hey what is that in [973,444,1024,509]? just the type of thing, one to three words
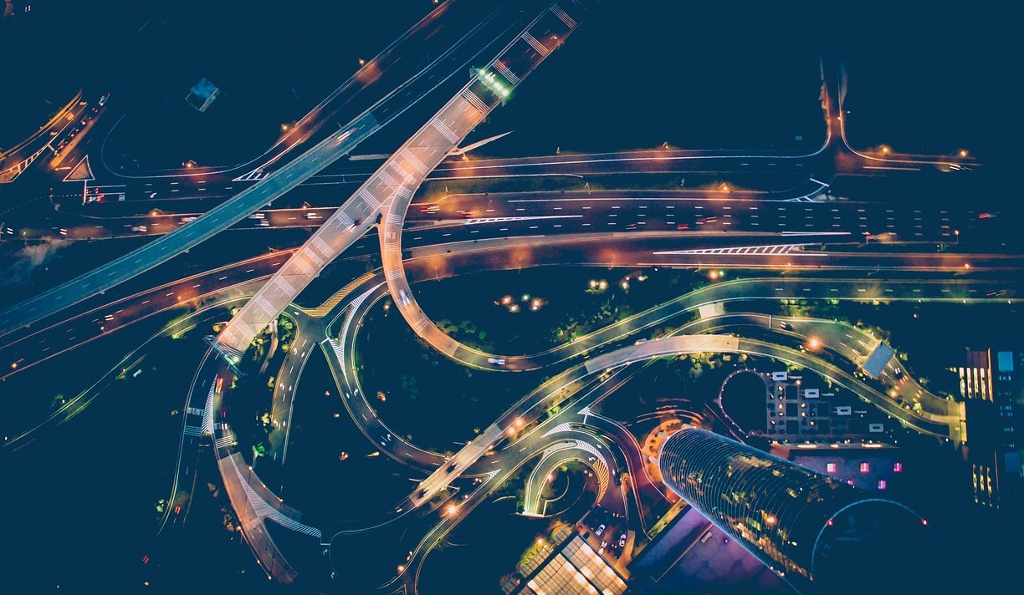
building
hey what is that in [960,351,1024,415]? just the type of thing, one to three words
building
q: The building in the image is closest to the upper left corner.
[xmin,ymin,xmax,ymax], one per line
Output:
[185,78,227,117]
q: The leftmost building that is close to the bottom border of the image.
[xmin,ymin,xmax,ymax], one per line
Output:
[484,528,632,595]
